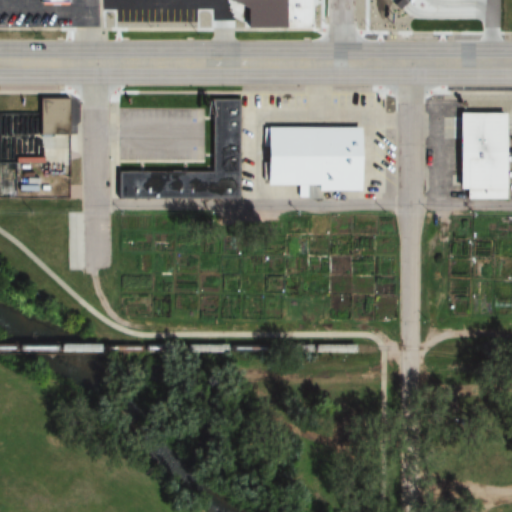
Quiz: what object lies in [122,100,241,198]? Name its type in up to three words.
building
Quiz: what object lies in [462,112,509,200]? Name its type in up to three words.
building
